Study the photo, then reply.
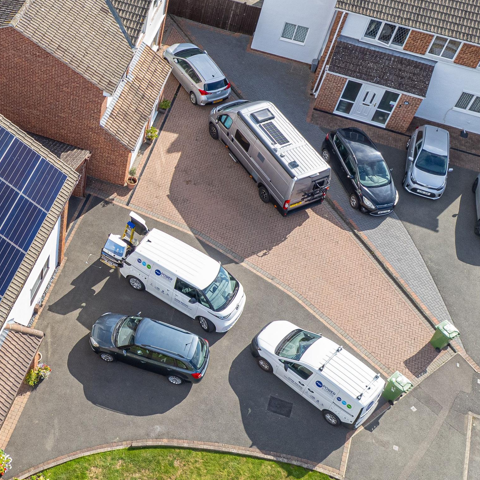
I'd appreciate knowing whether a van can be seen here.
Yes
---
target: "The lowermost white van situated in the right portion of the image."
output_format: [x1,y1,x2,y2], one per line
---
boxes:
[252,321,393,435]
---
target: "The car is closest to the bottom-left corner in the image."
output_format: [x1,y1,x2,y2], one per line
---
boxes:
[88,309,209,385]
